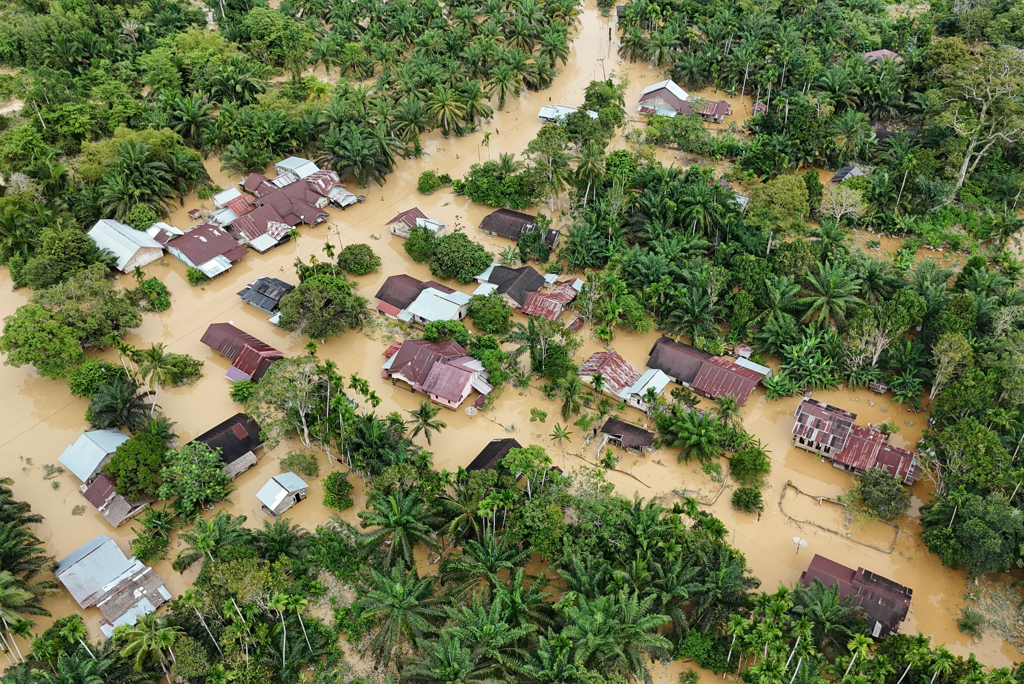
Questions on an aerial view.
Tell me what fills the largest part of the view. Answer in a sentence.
What you mostly see from above here is trees.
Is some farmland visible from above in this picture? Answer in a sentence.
No, no farmland is visible.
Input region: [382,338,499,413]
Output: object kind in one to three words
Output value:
house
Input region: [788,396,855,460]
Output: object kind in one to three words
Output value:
house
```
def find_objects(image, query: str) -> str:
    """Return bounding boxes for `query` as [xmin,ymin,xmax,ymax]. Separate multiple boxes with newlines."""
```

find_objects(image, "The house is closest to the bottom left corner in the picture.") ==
[52,534,164,637]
